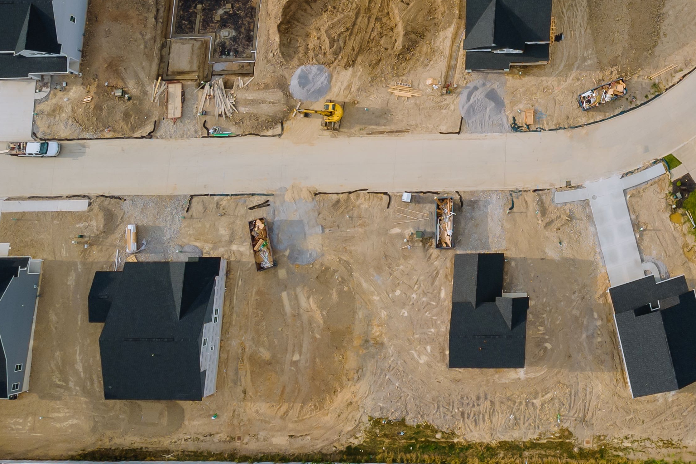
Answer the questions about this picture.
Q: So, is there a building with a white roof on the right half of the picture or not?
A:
No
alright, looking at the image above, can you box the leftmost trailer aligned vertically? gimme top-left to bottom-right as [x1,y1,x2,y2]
[161,78,185,125]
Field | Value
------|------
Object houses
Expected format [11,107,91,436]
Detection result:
[449,253,529,368]
[608,275,696,398]
[0,257,43,398]
[85,257,232,401]
[0,0,88,80]
[463,0,553,72]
